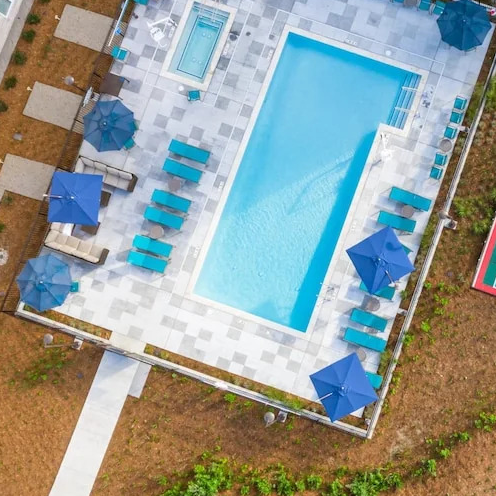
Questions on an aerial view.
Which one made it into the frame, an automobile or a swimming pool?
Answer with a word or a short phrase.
swimming pool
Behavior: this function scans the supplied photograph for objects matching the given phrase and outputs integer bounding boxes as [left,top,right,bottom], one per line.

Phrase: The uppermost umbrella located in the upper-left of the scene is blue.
[81,98,138,153]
